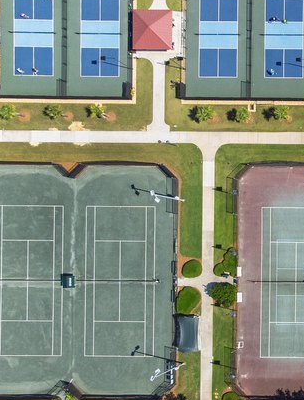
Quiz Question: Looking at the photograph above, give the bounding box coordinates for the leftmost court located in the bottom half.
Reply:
[0,165,79,395]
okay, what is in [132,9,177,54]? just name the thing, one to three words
building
